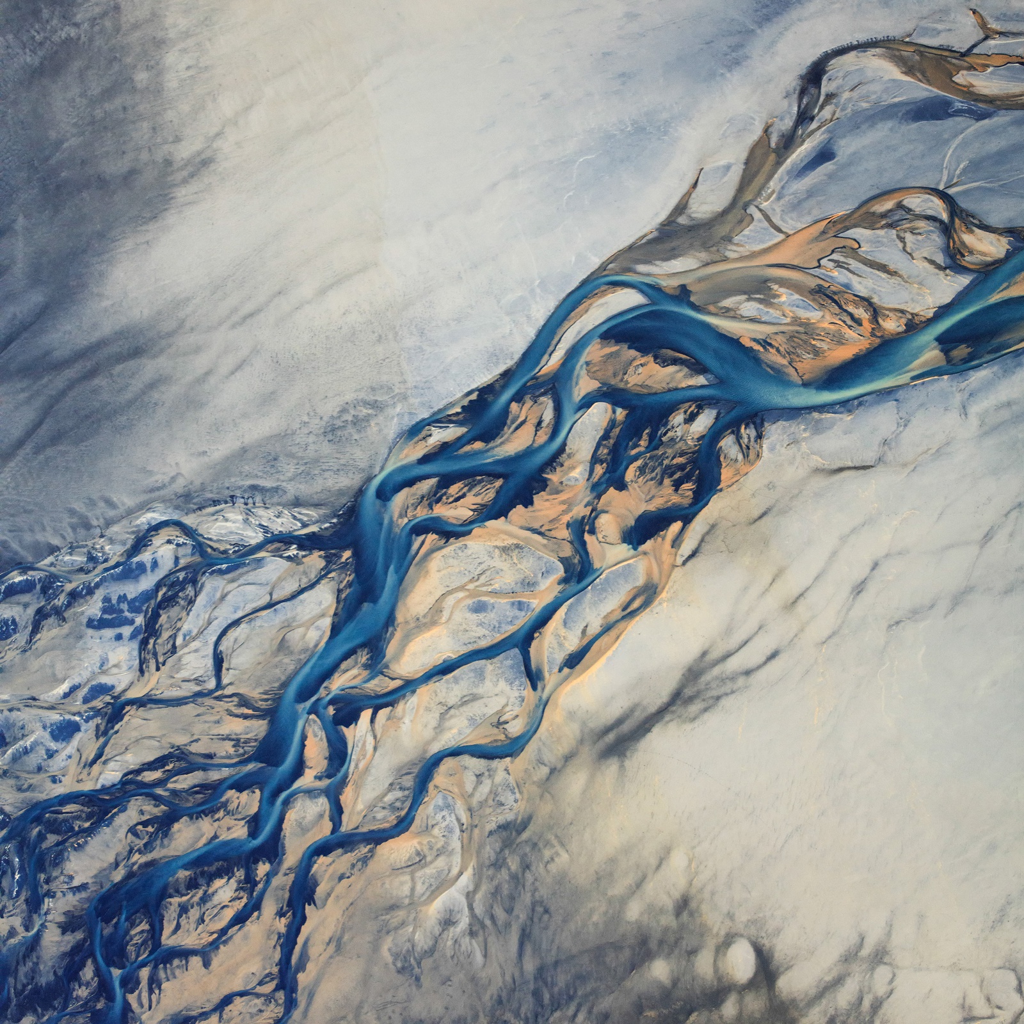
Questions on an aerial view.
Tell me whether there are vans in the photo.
No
